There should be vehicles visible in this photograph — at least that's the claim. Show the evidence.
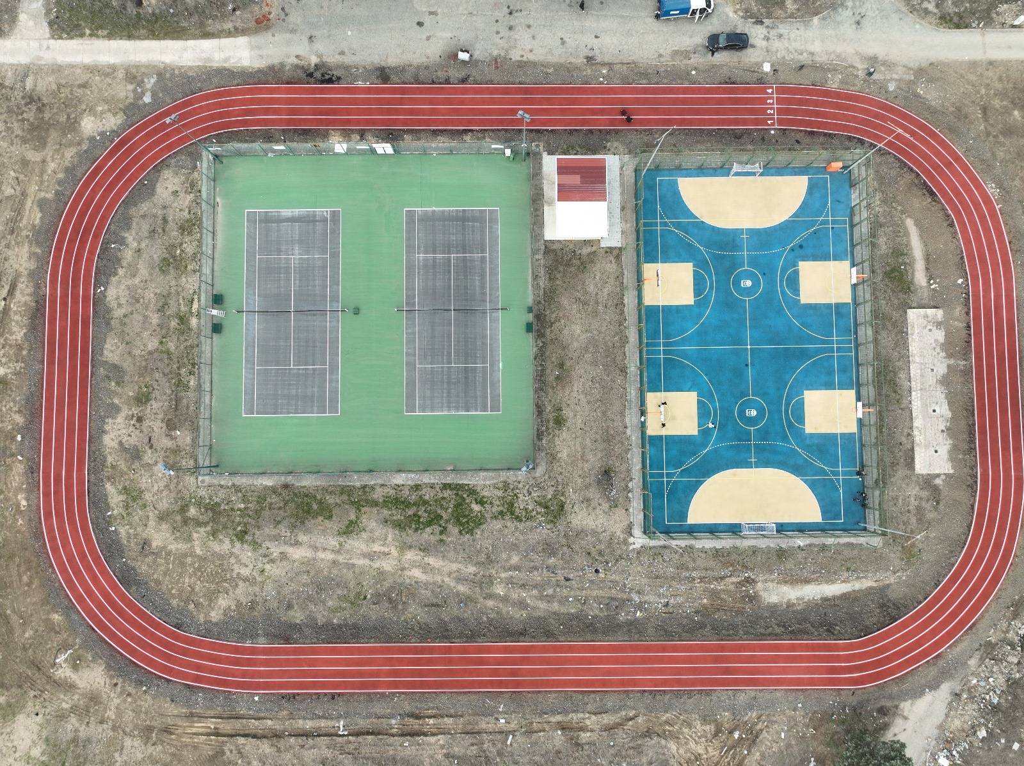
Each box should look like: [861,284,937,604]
[708,28,750,49]
[655,0,714,21]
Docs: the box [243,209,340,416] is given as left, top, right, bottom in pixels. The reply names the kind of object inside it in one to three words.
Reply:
tennis court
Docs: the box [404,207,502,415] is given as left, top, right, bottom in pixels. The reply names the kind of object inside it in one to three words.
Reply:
tennis court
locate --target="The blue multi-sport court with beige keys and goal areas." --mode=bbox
[636,167,866,534]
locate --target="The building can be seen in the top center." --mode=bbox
[555,156,609,236]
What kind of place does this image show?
sports ground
